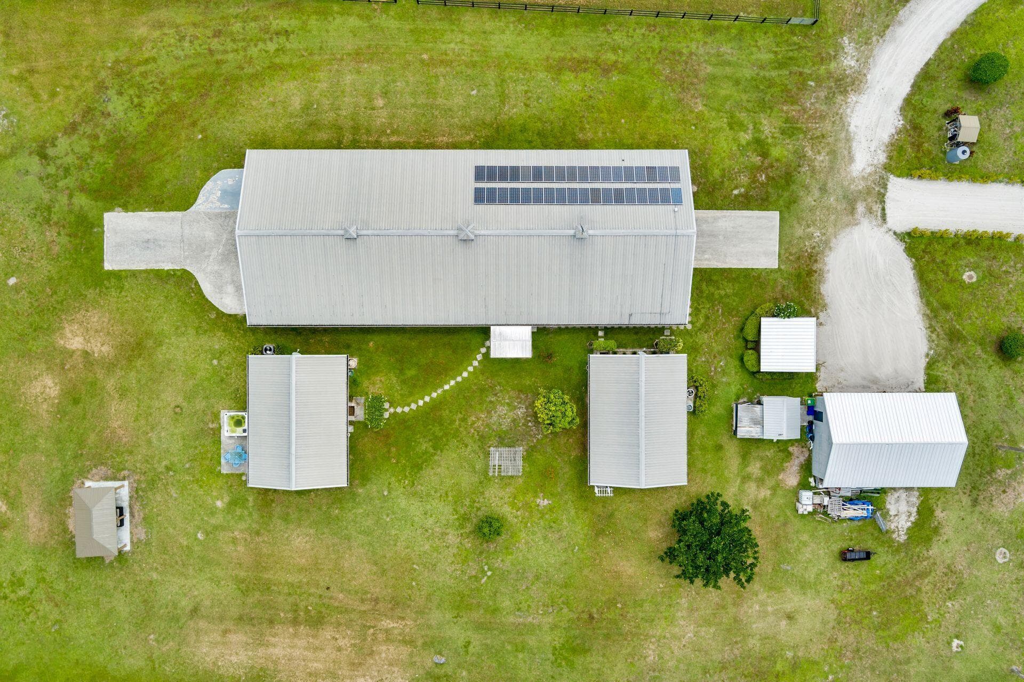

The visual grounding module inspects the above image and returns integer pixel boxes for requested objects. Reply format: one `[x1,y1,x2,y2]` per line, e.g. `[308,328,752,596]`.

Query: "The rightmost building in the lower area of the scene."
[813,392,969,488]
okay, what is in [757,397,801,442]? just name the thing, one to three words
shed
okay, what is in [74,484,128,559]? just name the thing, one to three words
gazebo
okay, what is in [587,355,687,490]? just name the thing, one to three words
building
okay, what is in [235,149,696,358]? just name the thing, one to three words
barn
